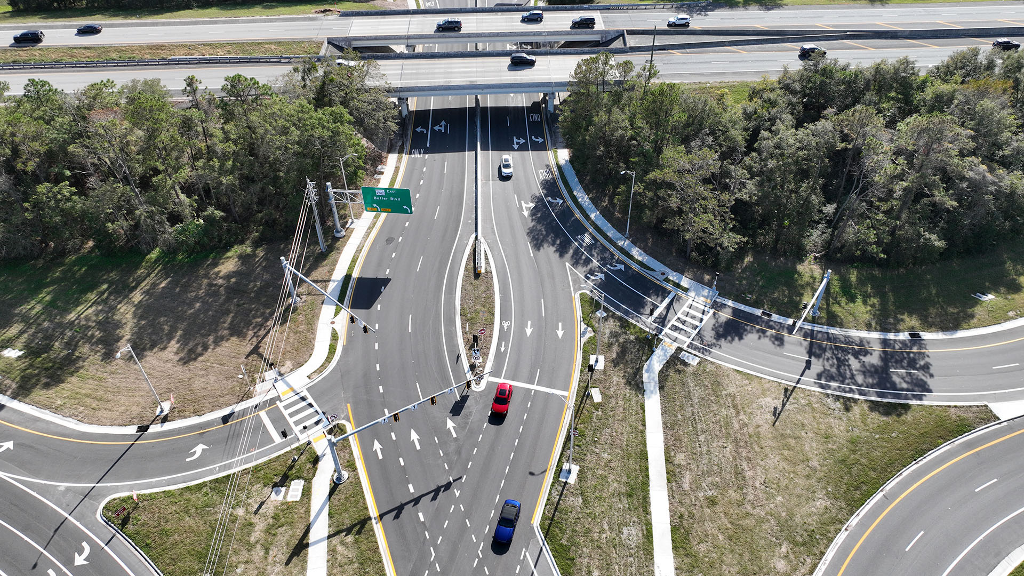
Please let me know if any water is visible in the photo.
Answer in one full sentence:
No, water can't be seen anywhere here.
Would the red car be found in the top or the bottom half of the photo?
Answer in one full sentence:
The bottom half of the photo is where the red car is.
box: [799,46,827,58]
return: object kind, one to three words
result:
vehicle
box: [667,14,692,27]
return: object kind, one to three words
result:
vehicle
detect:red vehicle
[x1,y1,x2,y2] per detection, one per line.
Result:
[491,386,511,420]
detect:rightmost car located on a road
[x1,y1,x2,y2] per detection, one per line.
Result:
[993,37,1022,51]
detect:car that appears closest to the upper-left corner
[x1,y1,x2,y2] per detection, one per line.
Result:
[13,30,42,44]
